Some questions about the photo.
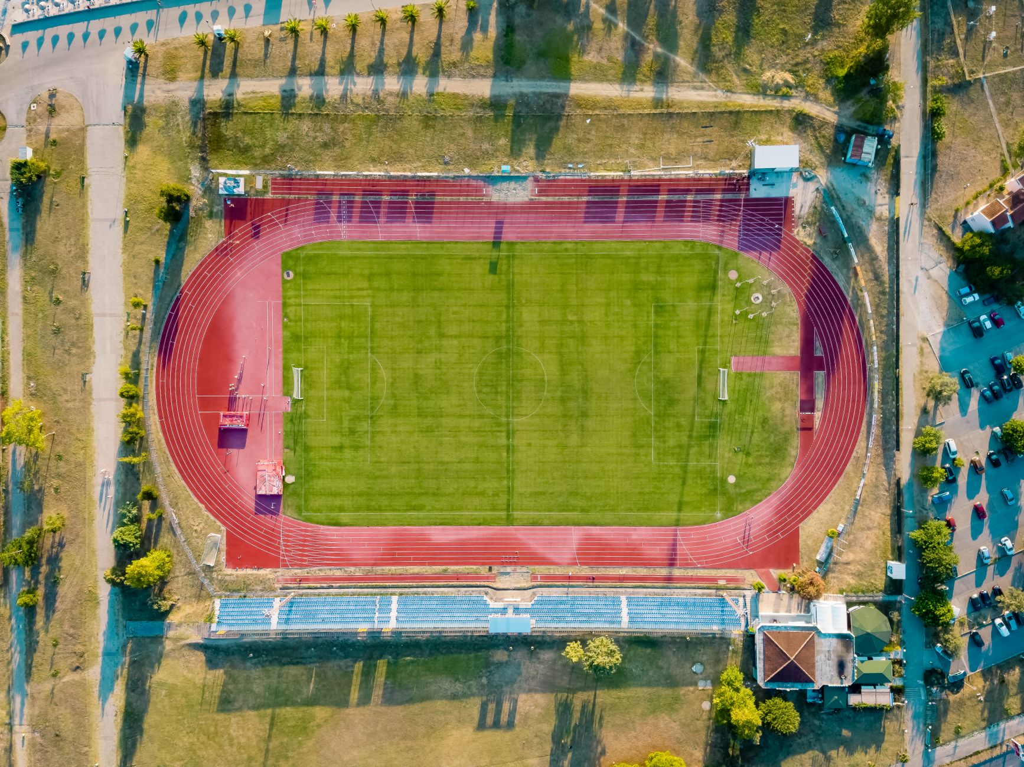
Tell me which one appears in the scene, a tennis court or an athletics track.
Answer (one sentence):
I can see an athletics track in this picture.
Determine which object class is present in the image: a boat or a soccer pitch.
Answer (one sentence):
I can see a soccer pitch in this picture.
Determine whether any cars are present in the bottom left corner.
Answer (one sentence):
No, no car can be made out in the bottom left corner.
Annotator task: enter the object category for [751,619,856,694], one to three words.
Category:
building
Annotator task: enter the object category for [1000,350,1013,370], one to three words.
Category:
vehicle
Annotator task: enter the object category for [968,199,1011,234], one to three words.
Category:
house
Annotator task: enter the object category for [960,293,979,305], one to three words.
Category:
vehicle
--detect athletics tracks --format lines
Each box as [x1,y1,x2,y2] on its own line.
[156,198,866,591]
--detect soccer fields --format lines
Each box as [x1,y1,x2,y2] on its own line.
[282,241,825,526]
